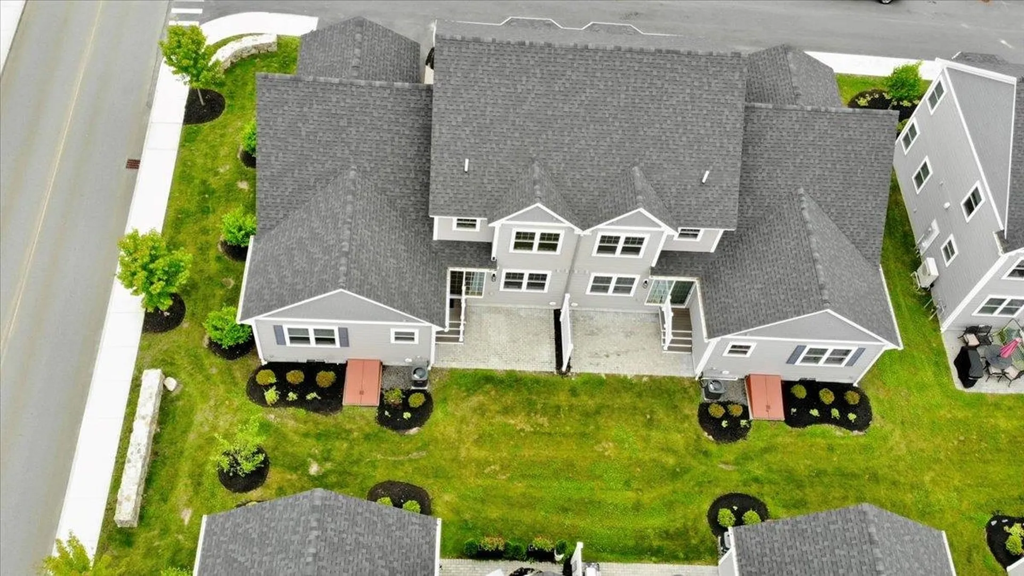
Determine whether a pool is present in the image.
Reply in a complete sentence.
No, the picture doesn't show any pool.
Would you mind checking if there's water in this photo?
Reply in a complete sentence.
No, the picture contains no water.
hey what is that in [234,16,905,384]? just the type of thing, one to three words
house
